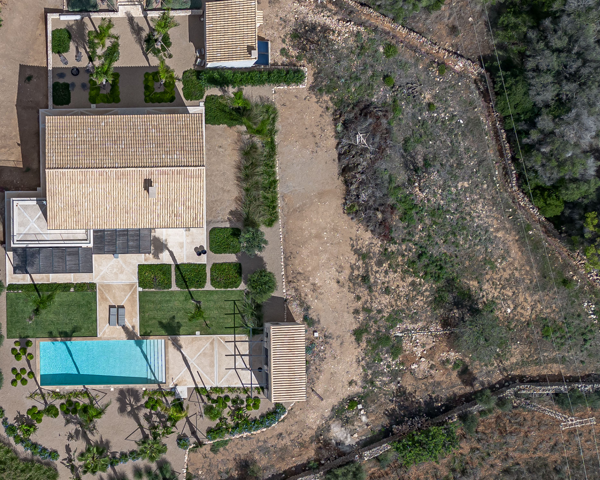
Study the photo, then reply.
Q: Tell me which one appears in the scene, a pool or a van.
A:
pool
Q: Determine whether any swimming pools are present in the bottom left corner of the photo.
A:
Yes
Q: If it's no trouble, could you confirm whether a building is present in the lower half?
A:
Yes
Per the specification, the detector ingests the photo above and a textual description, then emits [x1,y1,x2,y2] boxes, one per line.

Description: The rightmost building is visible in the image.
[266,324,306,403]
